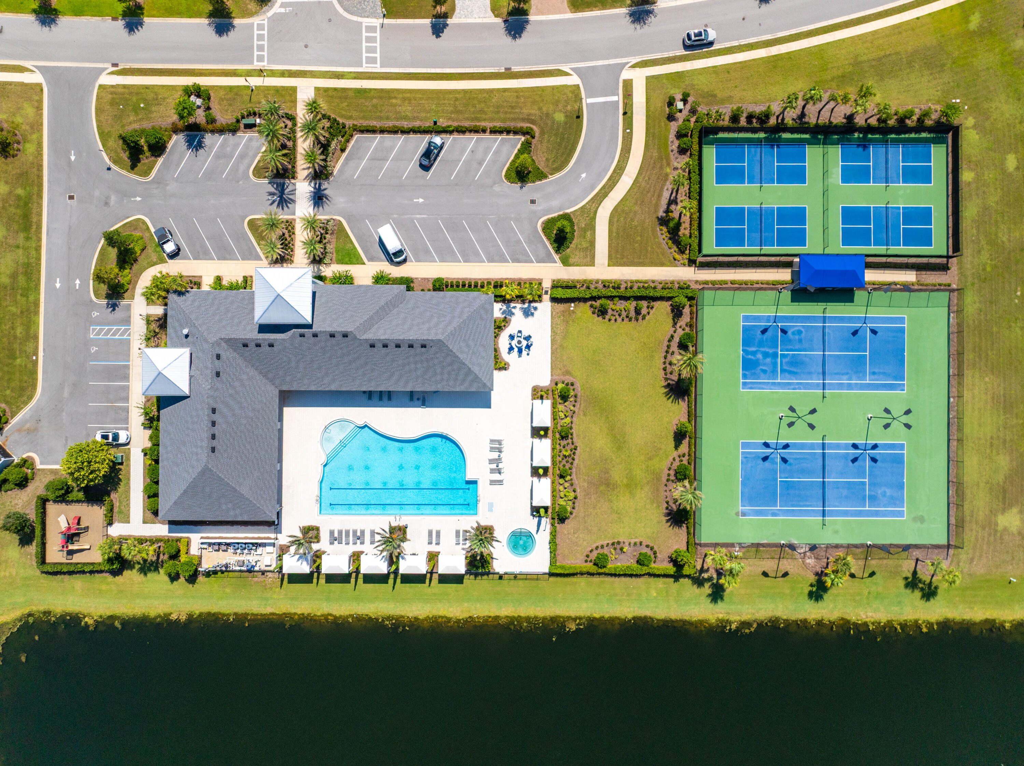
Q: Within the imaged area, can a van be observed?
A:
Yes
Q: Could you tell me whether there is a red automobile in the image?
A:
No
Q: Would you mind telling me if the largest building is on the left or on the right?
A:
left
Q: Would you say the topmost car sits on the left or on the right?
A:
right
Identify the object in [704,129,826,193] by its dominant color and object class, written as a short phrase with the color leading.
blue sports court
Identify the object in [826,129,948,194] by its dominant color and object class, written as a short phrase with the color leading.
blue sports court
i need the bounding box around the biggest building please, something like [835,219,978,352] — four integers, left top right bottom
[141,267,494,521]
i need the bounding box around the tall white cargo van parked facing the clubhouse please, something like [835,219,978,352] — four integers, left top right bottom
[377,222,407,265]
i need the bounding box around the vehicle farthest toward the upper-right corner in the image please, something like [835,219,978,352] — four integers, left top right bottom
[684,26,718,48]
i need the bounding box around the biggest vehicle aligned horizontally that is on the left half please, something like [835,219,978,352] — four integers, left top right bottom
[94,430,130,446]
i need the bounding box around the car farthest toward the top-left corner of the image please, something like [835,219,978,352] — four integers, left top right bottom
[150,225,178,257]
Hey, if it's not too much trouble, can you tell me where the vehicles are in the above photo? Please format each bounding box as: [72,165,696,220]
[684,26,718,48]
[377,222,407,265]
[420,134,444,168]
[94,430,130,446]
[150,225,178,257]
